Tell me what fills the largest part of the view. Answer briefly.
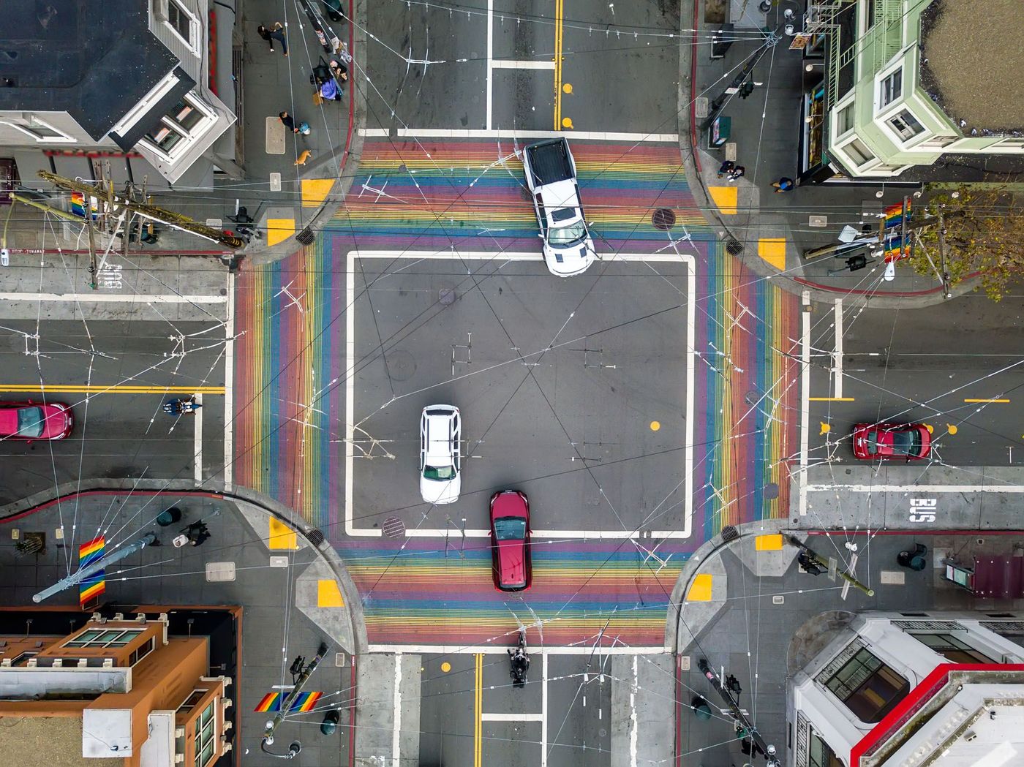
paved ground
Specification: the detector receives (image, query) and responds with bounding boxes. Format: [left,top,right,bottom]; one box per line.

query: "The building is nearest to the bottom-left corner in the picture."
[0,607,243,767]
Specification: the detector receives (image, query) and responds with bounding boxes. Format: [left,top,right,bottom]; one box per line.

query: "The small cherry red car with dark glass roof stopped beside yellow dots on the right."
[850,420,929,464]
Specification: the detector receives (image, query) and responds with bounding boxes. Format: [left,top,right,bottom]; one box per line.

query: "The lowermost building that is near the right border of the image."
[783,606,1024,767]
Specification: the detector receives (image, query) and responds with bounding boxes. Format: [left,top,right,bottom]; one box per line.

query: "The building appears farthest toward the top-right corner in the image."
[796,0,1024,191]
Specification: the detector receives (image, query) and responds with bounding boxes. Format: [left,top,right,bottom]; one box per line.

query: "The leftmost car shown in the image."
[0,396,75,444]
